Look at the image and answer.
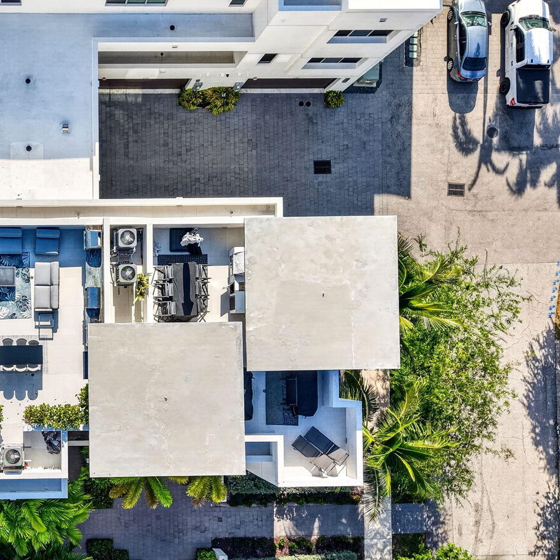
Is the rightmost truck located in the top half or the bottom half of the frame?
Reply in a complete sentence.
You can find the rightmost truck in the top half.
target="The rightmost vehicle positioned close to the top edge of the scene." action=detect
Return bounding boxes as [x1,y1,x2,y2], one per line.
[501,0,556,108]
